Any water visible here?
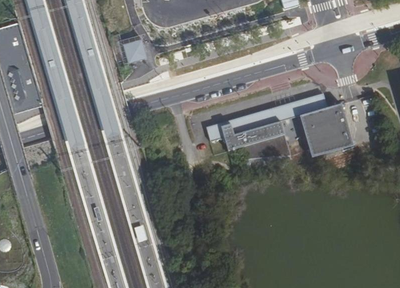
Yes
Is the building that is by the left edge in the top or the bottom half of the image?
top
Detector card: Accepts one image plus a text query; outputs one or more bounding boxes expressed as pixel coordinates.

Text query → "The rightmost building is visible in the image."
[300,102,354,156]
